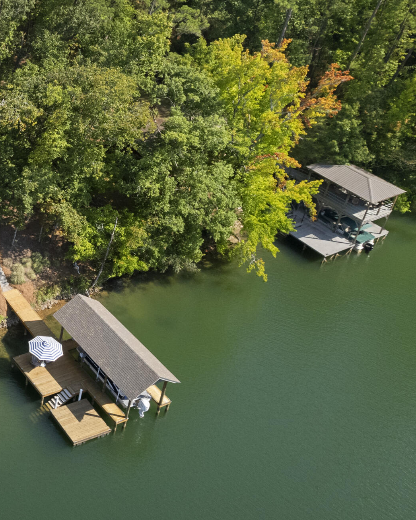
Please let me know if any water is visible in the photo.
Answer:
Yes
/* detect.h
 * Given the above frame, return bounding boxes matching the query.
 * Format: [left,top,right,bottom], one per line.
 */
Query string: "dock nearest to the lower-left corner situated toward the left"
[50,399,113,448]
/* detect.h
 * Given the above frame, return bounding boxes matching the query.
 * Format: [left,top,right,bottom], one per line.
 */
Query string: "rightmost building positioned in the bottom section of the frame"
[52,295,181,426]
